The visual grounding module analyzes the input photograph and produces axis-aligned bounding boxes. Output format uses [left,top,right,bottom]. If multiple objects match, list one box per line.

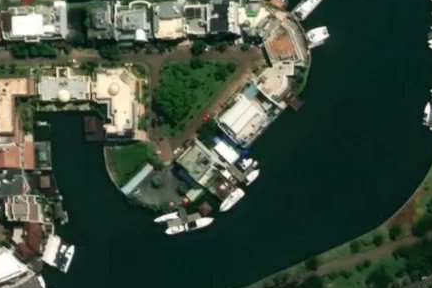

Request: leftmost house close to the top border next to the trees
[2,1,67,42]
